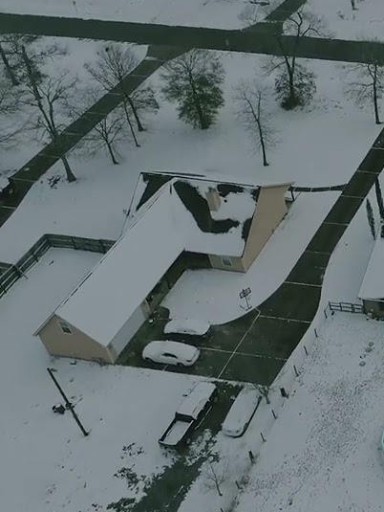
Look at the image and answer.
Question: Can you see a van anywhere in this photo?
Yes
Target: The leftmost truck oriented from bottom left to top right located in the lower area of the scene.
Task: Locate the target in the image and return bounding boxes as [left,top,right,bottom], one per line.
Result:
[151,378,223,449]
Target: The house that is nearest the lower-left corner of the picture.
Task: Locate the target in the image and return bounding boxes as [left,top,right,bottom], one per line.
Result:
[33,175,298,362]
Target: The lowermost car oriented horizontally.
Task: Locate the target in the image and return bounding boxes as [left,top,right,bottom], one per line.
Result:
[139,341,202,370]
